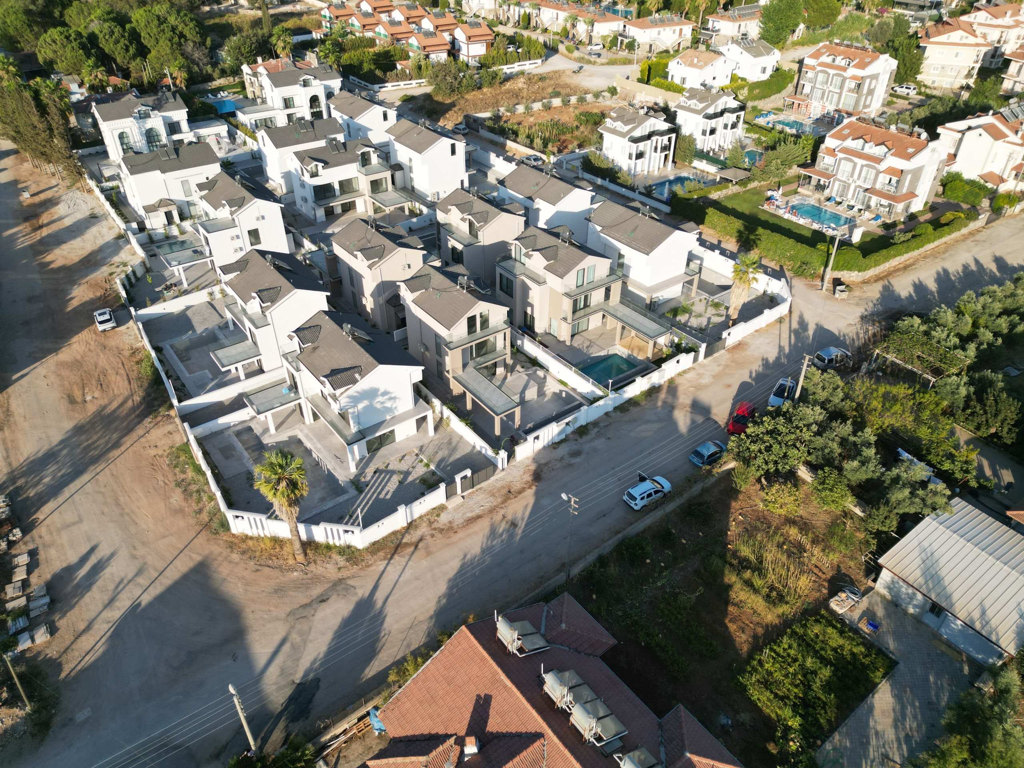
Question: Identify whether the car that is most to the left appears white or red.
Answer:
white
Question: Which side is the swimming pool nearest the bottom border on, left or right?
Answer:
left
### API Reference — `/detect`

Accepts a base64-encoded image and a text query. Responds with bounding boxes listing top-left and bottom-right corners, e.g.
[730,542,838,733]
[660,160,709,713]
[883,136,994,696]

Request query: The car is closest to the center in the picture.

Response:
[623,473,672,510]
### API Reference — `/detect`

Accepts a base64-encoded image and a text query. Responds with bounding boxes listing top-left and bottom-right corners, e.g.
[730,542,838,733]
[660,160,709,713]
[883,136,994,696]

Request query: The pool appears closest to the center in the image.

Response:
[577,351,641,386]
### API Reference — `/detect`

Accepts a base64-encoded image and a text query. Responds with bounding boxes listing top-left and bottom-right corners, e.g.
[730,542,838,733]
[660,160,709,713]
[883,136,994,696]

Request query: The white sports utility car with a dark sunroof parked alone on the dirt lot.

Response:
[94,309,118,331]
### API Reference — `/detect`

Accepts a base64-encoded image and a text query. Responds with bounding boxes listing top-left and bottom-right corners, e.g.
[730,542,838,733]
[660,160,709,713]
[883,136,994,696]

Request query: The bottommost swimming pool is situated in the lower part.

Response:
[225,424,357,515]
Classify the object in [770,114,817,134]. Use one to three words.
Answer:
swimming pool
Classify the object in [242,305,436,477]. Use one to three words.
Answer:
house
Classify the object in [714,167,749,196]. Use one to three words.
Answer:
building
